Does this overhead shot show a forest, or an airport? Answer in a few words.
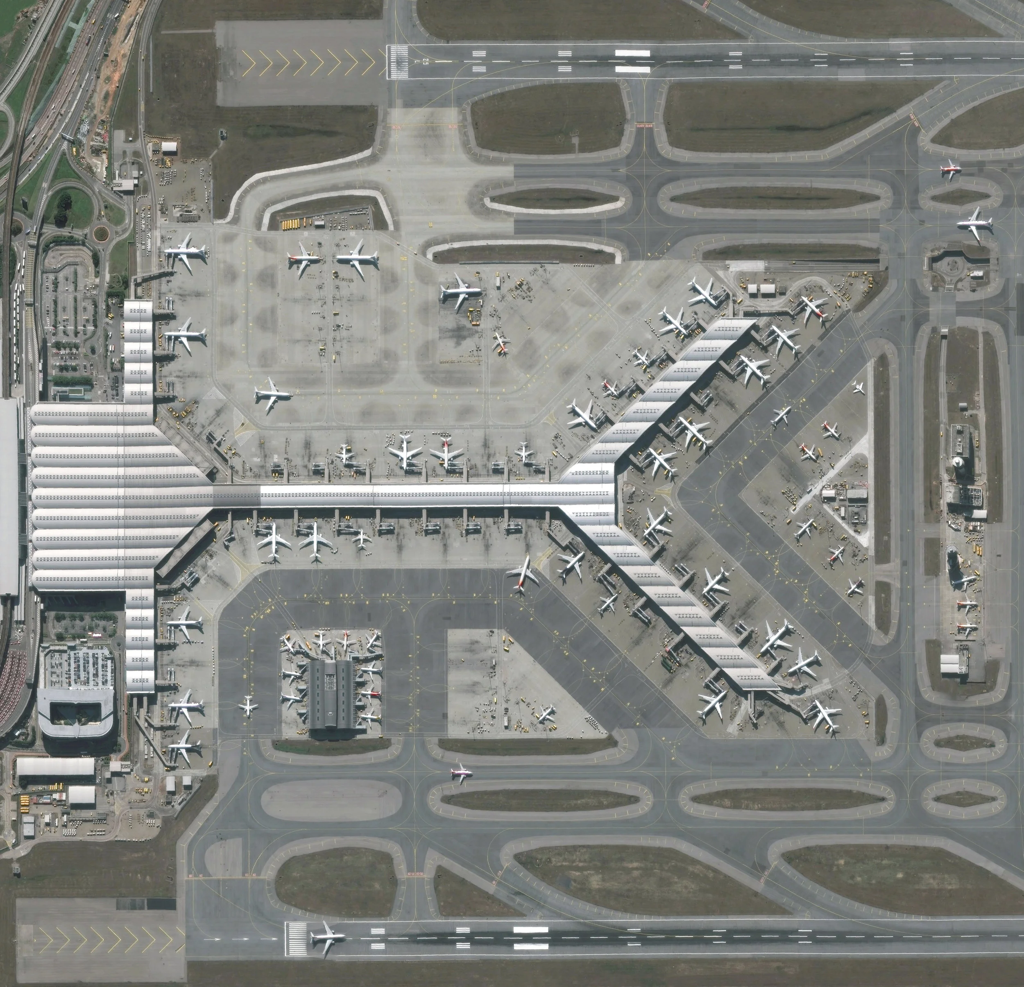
airport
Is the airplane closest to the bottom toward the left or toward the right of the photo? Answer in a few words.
left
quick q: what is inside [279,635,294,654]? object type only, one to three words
airplane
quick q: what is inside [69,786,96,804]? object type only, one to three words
building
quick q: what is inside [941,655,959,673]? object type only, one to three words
shed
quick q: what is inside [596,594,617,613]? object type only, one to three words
airplane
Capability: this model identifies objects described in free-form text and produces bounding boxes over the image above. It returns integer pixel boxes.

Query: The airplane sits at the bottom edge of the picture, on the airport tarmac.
[310,919,345,953]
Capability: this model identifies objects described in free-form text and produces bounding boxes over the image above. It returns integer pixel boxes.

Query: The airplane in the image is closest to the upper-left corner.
[164,233,205,269]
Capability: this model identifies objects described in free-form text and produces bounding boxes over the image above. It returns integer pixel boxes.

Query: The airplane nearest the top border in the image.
[940,159,961,178]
